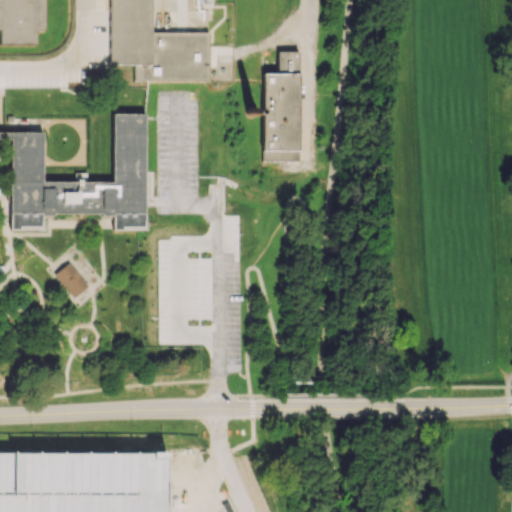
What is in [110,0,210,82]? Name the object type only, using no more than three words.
building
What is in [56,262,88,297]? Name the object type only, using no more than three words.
building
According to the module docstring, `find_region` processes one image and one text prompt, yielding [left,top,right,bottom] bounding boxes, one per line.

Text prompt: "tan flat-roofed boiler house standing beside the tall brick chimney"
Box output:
[263,52,301,163]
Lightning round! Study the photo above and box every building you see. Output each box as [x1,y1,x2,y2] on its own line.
[110,0,210,82]
[0,114,150,231]
[0,450,172,512]
[56,262,88,297]
[0,0,48,46]
[263,52,301,163]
